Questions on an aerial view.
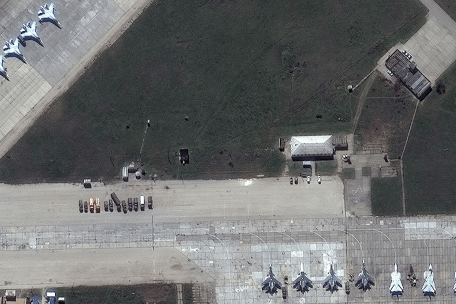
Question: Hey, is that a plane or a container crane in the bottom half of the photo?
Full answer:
You can see a plane in the bottom half of the photo.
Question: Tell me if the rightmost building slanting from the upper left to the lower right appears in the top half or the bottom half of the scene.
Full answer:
You can find the rightmost building slanting from the upper left to the lower right in the top half.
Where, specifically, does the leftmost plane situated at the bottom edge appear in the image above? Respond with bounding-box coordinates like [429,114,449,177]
[261,264,281,292]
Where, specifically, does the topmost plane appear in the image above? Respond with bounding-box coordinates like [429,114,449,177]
[36,0,61,24]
